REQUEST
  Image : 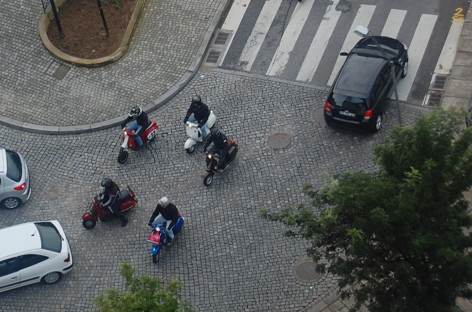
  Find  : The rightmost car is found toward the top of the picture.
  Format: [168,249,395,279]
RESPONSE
[319,36,410,138]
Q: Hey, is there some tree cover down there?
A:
Yes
